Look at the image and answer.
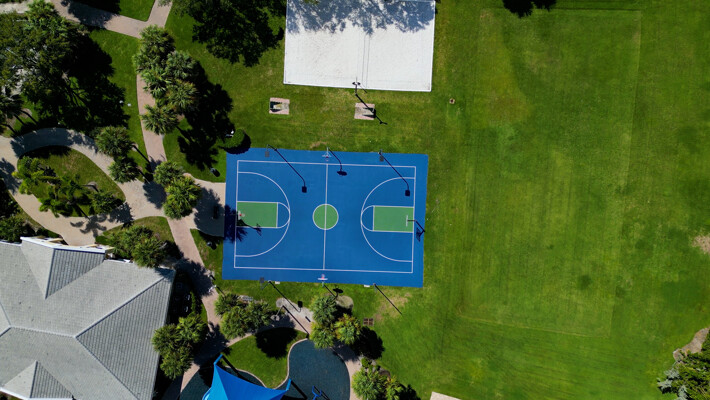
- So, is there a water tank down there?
No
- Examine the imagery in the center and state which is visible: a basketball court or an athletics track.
basketball court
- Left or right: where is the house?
left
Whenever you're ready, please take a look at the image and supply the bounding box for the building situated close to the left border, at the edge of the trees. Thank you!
[0,232,176,400]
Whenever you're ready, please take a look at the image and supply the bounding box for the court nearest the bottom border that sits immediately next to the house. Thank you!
[222,148,428,288]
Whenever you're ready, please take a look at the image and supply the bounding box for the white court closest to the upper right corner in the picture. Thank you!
[284,0,435,92]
